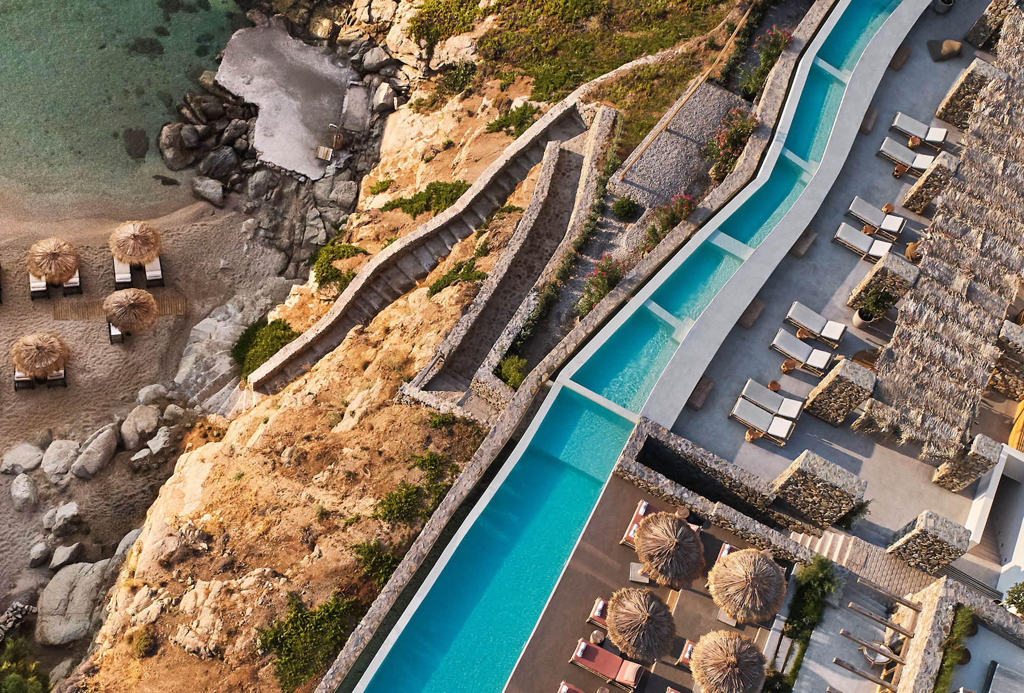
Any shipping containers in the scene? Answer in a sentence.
No, no shipping container can be seen from above.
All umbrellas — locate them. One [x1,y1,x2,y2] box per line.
[108,223,164,269]
[26,239,83,288]
[101,288,161,337]
[600,588,677,666]
[632,517,706,589]
[684,624,771,693]
[701,545,787,632]
[8,330,75,384]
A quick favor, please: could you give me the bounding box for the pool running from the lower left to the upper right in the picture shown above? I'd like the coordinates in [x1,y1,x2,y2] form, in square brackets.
[352,0,932,693]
